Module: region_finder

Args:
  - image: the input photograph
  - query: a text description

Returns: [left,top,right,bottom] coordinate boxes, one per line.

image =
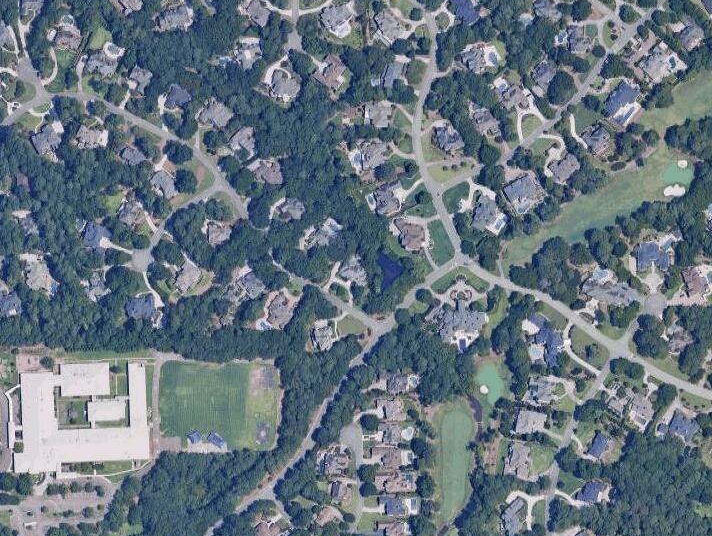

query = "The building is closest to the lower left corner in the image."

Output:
[6,363,150,478]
